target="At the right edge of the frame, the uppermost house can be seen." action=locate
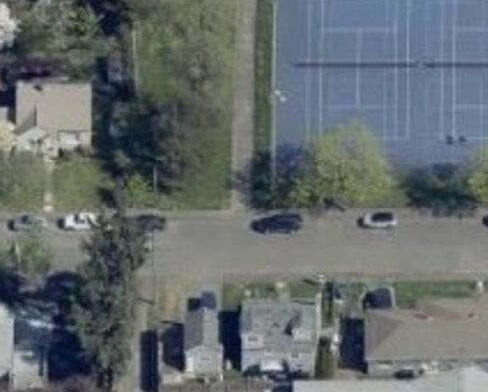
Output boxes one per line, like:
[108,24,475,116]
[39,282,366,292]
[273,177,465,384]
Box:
[366,299,488,376]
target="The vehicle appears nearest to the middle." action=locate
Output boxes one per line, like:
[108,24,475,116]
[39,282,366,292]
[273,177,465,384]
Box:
[254,214,300,235]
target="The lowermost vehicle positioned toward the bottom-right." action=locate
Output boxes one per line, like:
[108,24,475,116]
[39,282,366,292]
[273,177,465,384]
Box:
[372,290,390,309]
